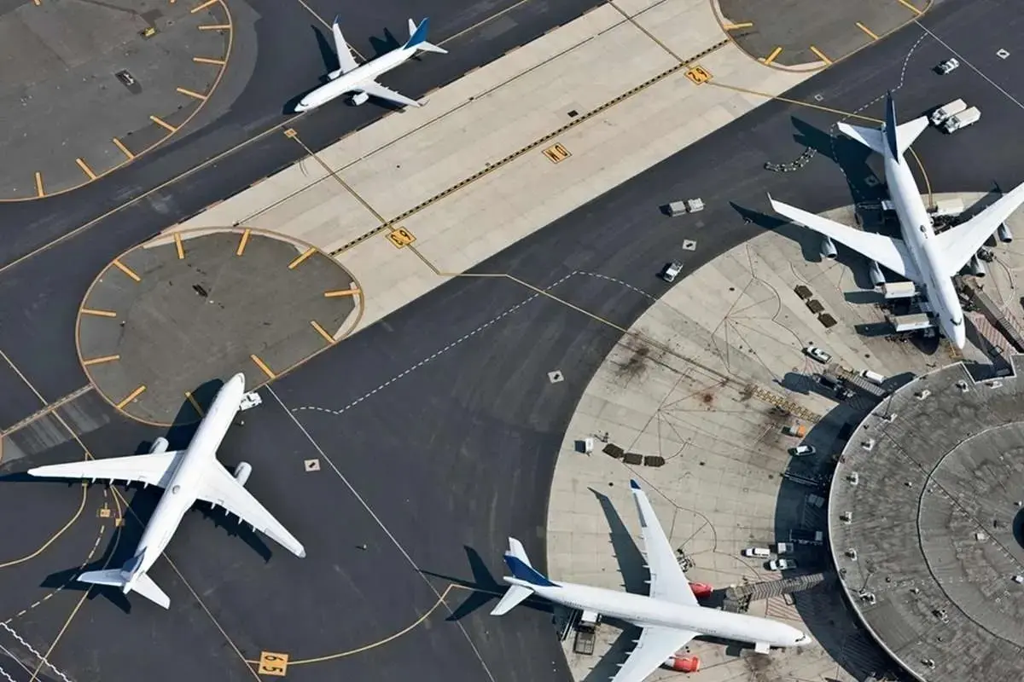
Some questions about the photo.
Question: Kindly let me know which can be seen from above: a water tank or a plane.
plane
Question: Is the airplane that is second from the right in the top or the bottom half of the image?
bottom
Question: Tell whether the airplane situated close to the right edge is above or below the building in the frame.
above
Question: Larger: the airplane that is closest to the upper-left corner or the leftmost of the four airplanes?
the leftmost of the four airplanes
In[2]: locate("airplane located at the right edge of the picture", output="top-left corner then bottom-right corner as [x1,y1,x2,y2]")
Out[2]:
[768,89,1024,352]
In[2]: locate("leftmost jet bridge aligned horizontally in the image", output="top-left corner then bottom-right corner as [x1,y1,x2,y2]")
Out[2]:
[723,573,838,614]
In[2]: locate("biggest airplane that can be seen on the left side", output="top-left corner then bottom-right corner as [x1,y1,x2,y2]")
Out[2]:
[29,375,303,609]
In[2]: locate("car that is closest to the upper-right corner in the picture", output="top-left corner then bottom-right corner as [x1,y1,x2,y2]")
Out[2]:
[941,59,961,72]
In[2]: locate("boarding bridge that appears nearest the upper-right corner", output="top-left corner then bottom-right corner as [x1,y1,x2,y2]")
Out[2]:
[950,276,1024,353]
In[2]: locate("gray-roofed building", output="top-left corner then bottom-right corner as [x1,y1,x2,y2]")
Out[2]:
[823,353,1024,682]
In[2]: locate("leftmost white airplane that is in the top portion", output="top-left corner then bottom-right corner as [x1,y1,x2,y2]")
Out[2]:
[295,13,445,115]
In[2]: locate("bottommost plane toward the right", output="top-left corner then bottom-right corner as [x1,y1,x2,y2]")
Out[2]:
[490,478,811,682]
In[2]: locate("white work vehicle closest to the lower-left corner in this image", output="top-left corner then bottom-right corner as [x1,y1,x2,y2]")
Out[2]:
[240,390,264,411]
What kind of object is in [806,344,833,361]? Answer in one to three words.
car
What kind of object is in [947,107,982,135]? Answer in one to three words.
truck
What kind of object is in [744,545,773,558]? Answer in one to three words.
vehicle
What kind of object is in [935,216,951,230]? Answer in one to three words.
work vehicle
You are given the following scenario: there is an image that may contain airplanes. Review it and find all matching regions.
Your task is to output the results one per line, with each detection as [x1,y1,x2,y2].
[295,13,445,115]
[768,89,1024,352]
[490,478,811,682]
[29,375,303,609]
